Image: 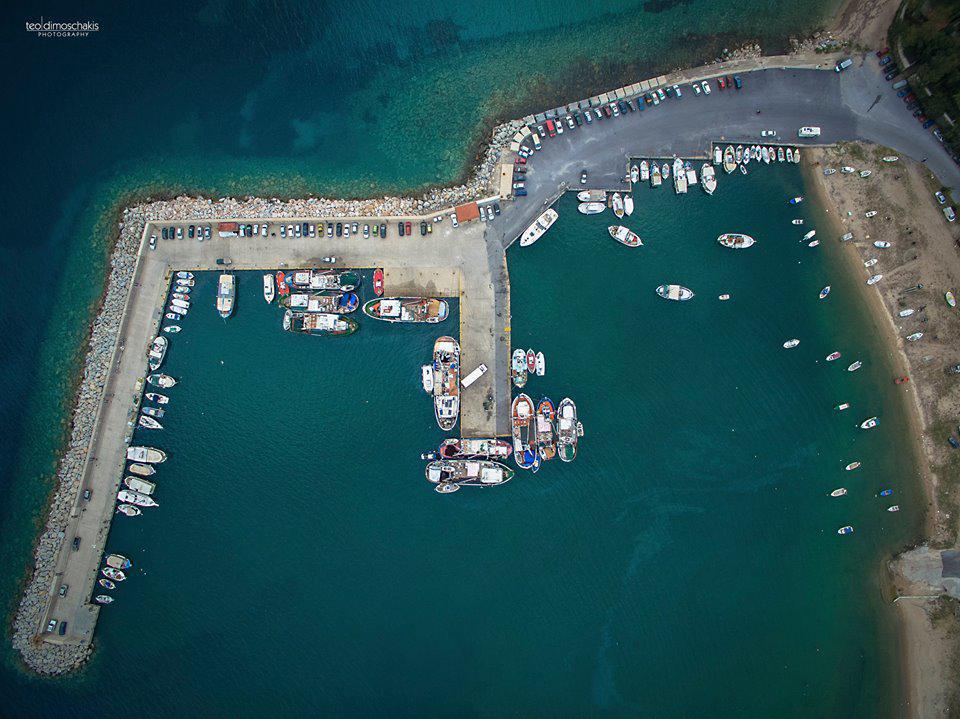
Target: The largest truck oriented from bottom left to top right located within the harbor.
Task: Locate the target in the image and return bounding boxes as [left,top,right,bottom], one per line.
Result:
[461,364,488,387]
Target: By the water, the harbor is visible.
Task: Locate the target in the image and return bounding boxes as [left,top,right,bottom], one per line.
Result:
[42,67,846,642]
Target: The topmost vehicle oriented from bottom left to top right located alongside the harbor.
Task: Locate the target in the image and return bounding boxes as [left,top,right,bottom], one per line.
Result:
[832,57,853,73]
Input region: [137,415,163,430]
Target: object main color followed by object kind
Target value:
white boat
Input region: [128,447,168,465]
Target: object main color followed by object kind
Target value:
white boat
